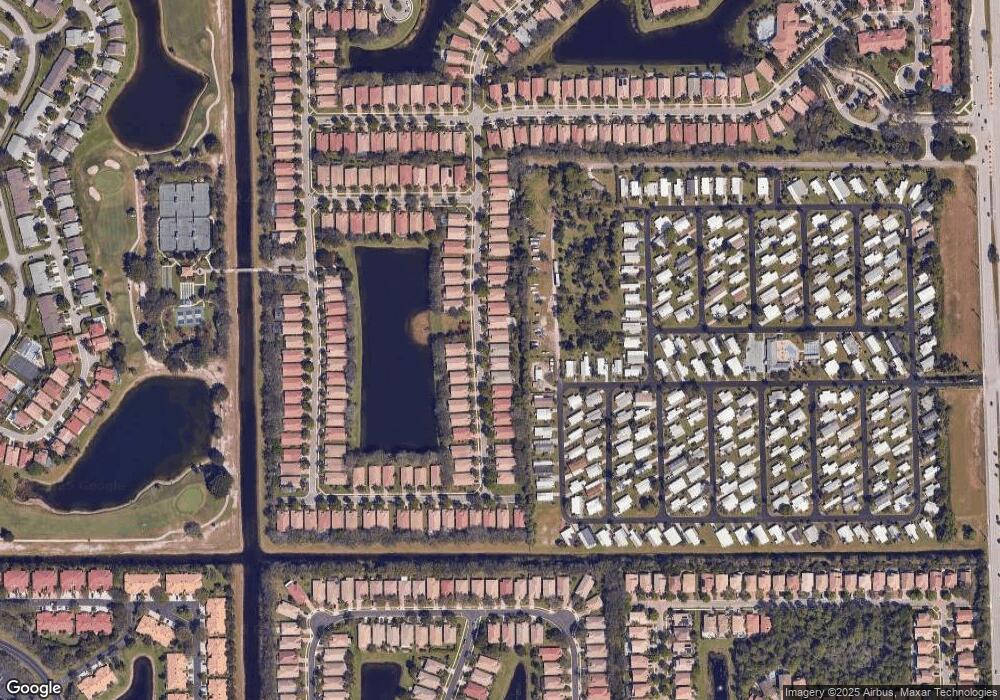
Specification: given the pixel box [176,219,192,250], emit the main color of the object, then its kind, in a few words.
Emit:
gray tennis court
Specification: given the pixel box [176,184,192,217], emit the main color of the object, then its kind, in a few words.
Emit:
gray tennis court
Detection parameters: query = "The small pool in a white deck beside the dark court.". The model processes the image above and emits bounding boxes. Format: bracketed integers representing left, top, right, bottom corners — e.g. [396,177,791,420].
[24,341,45,368]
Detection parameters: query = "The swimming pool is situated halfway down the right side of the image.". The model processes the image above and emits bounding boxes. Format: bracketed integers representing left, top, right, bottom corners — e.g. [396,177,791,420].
[776,340,800,363]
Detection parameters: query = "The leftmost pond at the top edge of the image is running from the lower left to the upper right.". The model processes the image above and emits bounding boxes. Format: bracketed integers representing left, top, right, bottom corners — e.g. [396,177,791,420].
[348,0,462,72]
